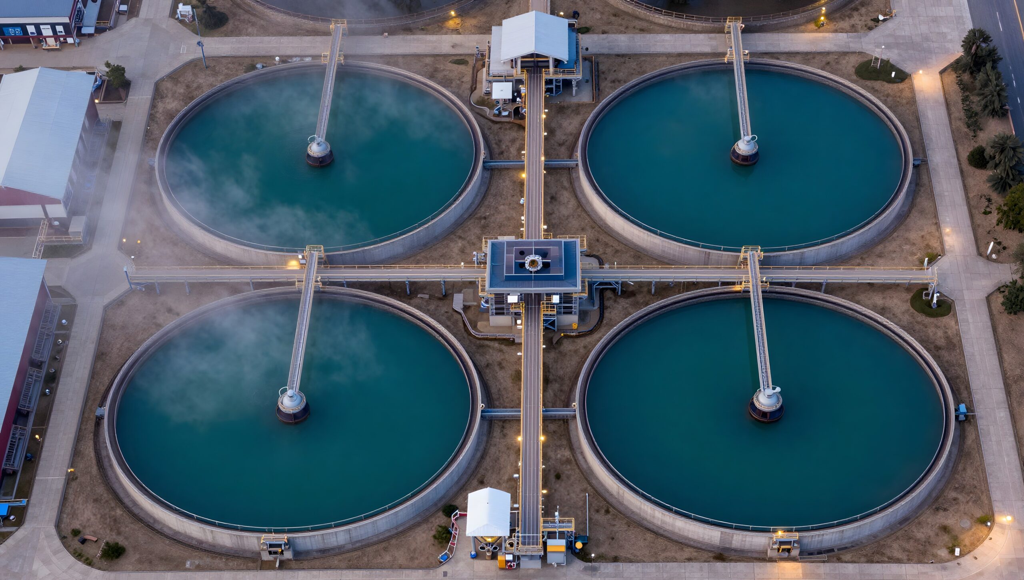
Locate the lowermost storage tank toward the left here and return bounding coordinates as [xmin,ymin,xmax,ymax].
[94,287,496,561]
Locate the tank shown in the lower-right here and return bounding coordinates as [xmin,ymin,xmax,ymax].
[563,286,966,560]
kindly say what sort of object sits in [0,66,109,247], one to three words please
building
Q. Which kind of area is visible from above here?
industrial area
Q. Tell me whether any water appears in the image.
Yes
